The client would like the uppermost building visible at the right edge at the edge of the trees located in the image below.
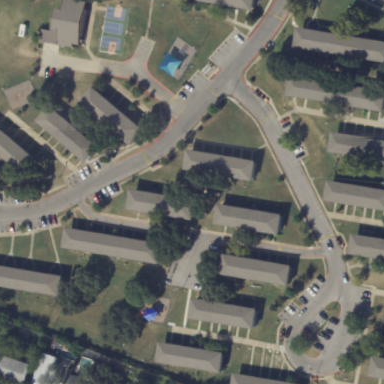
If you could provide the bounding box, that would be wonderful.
[292,27,384,60]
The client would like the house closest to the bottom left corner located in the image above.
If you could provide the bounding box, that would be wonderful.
[0,356,29,379]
